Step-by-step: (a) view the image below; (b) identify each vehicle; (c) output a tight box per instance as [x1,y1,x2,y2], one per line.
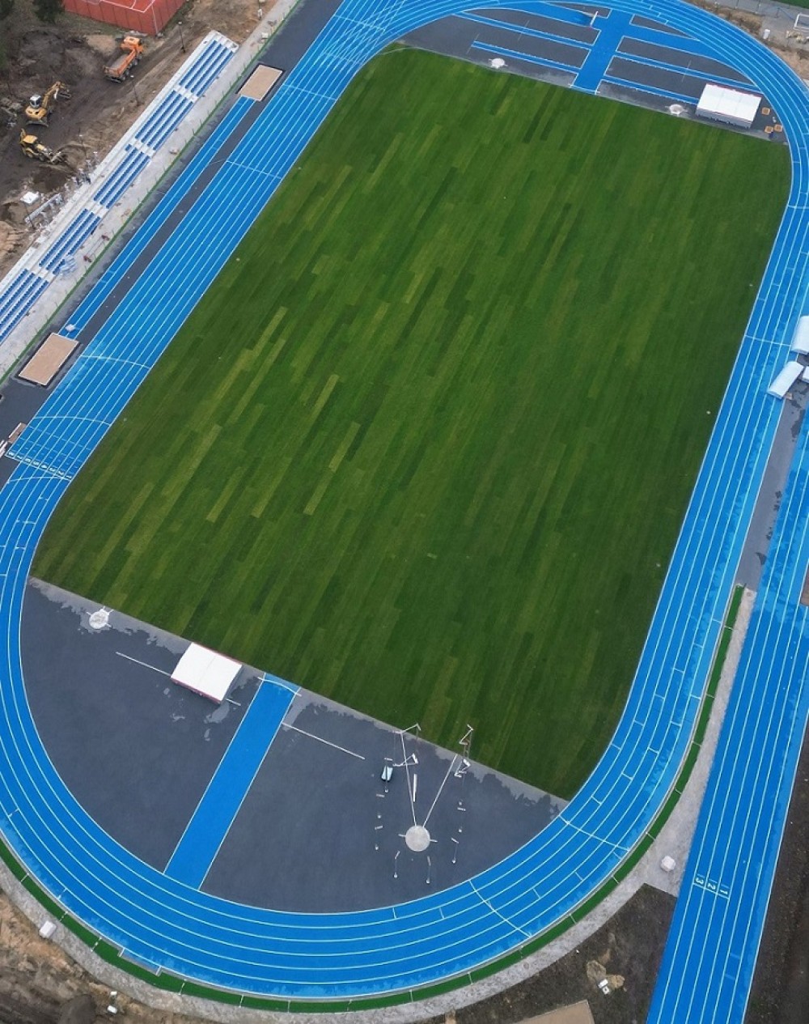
[104,40,144,82]
[27,80,75,130]
[22,132,64,163]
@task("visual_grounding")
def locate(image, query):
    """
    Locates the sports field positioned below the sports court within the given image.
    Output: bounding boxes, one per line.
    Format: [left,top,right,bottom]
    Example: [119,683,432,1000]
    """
[29,42,792,803]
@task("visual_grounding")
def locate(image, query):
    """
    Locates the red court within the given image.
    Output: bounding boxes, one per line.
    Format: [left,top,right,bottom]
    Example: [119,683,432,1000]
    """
[64,0,187,37]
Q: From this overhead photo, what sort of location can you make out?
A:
sports ground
